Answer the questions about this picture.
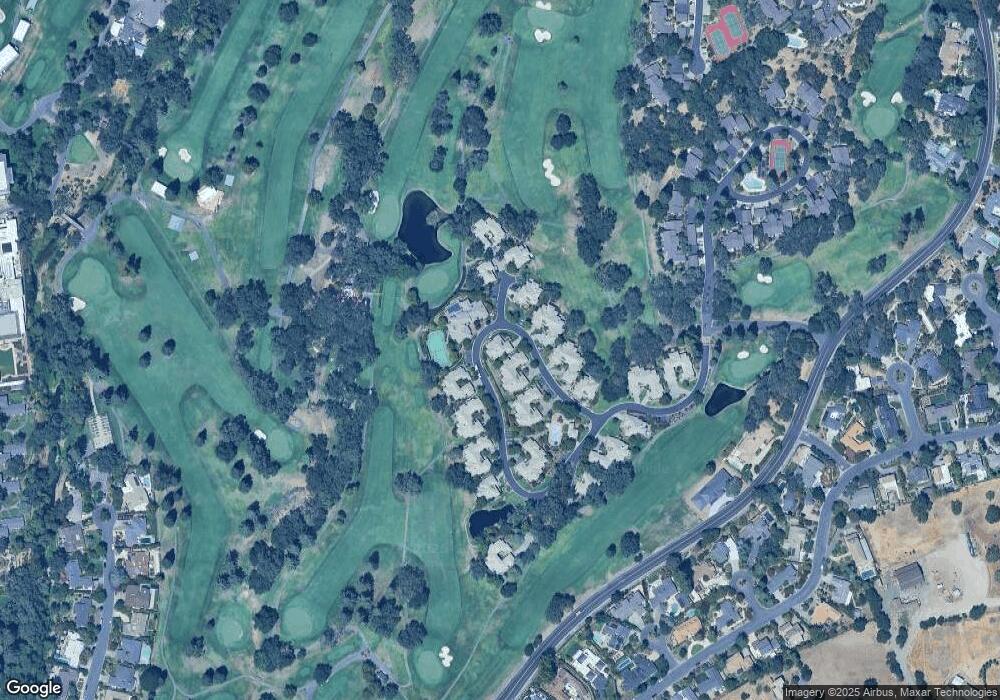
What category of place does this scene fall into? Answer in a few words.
golf course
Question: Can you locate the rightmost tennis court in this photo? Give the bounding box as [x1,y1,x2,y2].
[769,139,792,172]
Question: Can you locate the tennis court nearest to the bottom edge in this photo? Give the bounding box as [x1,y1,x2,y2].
[427,330,452,367]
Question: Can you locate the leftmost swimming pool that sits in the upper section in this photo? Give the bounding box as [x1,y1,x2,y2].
[742,175,764,189]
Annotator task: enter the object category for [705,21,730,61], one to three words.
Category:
tennis court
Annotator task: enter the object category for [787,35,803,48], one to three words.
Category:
swimming pool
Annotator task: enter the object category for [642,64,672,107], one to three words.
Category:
house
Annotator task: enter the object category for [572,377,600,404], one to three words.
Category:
building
